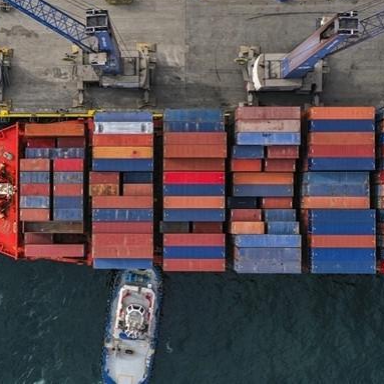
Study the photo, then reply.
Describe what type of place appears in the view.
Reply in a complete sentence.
What you see here is a port.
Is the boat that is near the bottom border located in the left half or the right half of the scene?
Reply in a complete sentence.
The boat that is near the bottom border appears in the left half of the scene.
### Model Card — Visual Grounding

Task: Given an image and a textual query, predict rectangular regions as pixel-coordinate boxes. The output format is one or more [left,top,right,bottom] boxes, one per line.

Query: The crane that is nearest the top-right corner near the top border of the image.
[243,4,384,108]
